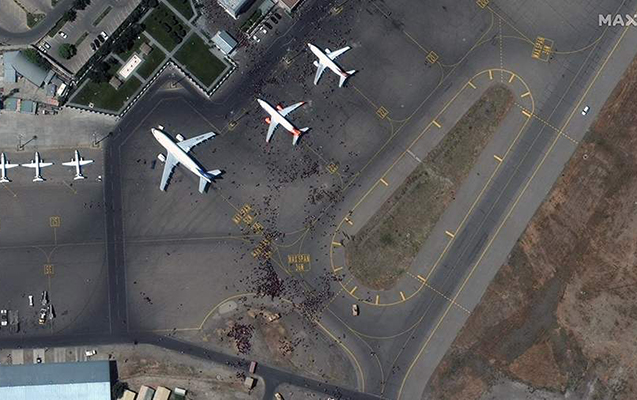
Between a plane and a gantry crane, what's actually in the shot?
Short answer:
plane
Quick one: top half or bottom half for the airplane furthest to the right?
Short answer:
top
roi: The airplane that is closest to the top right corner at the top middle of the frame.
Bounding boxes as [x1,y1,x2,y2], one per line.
[307,44,358,86]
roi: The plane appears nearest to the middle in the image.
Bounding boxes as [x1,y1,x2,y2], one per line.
[258,100,309,143]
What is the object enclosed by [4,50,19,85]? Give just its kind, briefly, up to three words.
shed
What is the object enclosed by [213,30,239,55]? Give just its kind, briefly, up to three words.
building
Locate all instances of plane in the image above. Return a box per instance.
[307,44,358,86]
[62,151,93,179]
[0,154,19,182]
[21,152,52,180]
[258,100,309,143]
[151,128,222,192]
